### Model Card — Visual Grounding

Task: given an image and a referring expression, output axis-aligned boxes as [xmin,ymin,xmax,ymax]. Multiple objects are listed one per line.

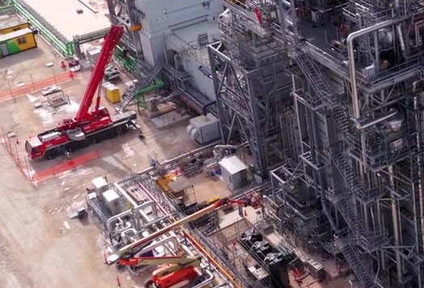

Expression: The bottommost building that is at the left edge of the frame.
[0,24,36,57]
